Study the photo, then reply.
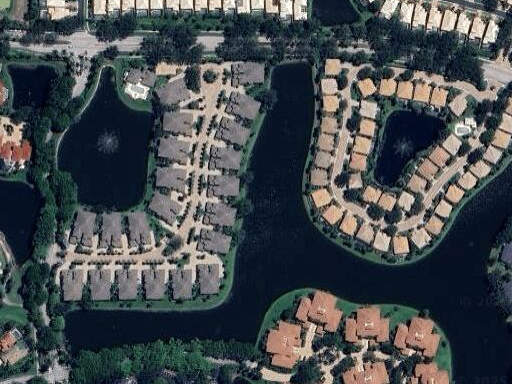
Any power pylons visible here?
No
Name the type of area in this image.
residential area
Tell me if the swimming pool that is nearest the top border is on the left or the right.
left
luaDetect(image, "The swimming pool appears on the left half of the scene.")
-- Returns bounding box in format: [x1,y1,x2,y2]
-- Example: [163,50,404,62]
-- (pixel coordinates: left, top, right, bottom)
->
[125,80,149,100]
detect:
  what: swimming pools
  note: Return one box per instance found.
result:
[456,121,472,134]
[125,80,149,100]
